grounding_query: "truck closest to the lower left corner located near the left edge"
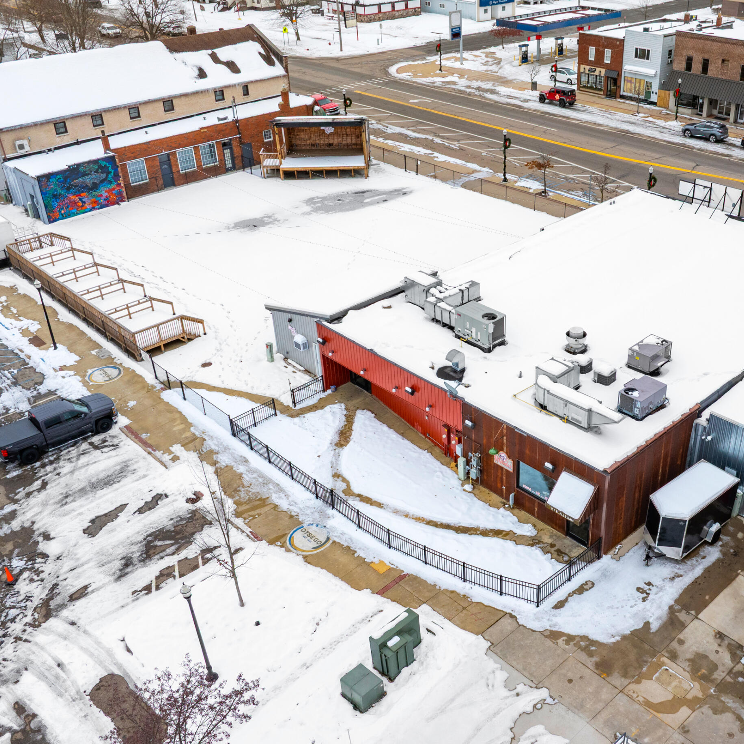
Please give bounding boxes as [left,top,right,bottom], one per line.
[0,392,122,466]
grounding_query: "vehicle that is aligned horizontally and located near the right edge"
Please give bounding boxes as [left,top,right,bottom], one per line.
[681,119,731,141]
